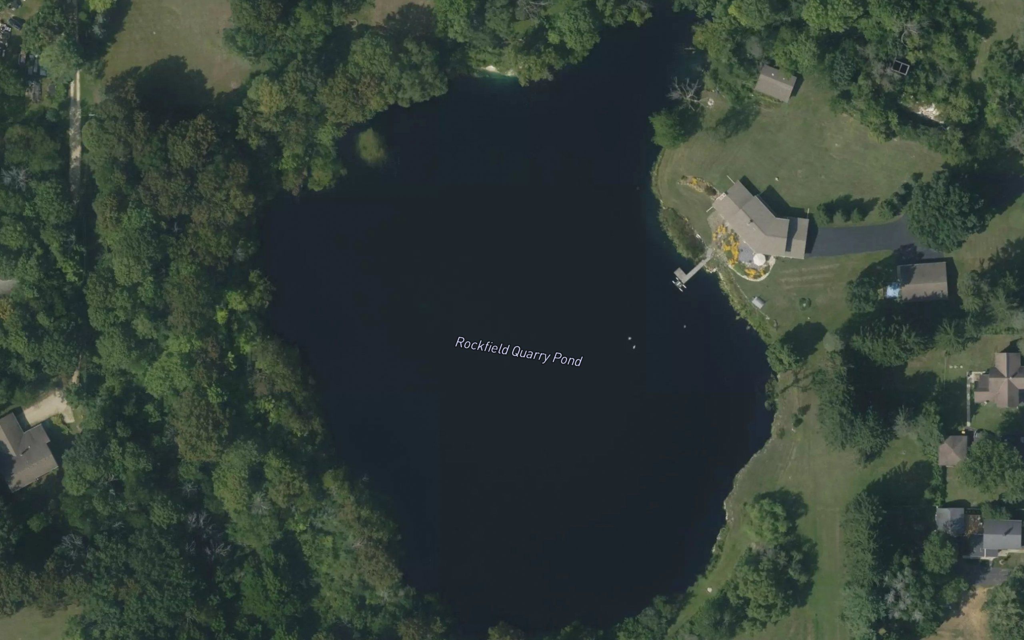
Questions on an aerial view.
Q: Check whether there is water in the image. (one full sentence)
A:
Yes, there's water in this view.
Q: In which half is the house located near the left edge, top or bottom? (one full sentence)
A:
Seen from above, the house located near the left edge lies in the bottom half of the view.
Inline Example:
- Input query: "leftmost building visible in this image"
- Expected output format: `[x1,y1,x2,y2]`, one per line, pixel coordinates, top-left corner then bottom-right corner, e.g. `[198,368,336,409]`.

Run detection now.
[0,413,58,492]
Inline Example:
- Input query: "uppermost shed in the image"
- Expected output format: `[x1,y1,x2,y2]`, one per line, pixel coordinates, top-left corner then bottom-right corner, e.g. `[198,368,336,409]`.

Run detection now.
[754,65,797,103]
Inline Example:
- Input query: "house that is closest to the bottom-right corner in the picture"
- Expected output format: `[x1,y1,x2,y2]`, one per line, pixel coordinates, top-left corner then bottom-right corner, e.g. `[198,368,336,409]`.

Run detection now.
[962,520,1022,558]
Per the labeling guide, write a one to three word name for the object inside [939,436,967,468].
shed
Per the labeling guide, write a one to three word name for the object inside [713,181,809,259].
house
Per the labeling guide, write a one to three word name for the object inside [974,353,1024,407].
house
